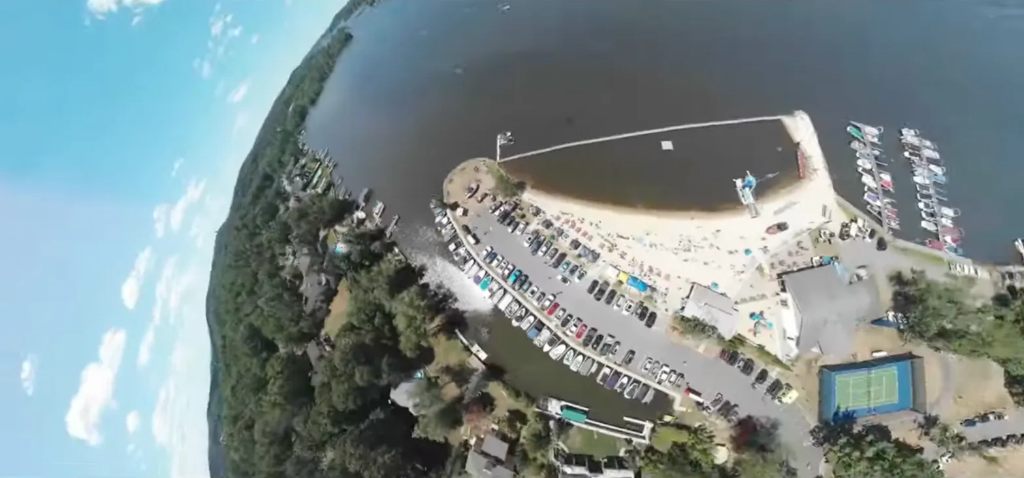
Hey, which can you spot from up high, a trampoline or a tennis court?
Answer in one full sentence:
Of the two, only a tennis court appears.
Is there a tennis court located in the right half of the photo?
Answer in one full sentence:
Yes, a tennis court is visible in the right half of the photo.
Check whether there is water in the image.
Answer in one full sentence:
Yes, water shows up in the scene.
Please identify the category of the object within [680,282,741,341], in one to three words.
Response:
building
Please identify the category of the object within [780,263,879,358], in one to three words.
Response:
building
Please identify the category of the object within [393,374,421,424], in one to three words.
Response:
house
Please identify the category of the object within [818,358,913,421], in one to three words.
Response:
tennis court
